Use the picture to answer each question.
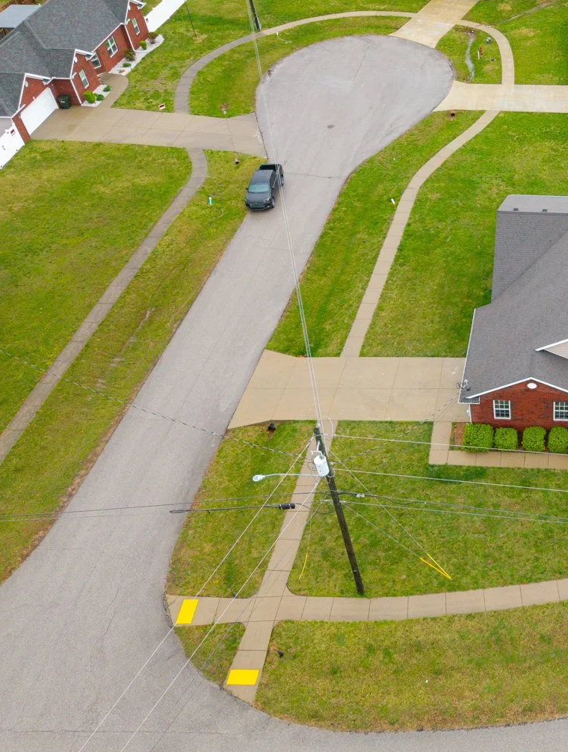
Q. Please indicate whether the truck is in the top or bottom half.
top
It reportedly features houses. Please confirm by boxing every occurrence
[457,194,568,428]
[0,0,151,143]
